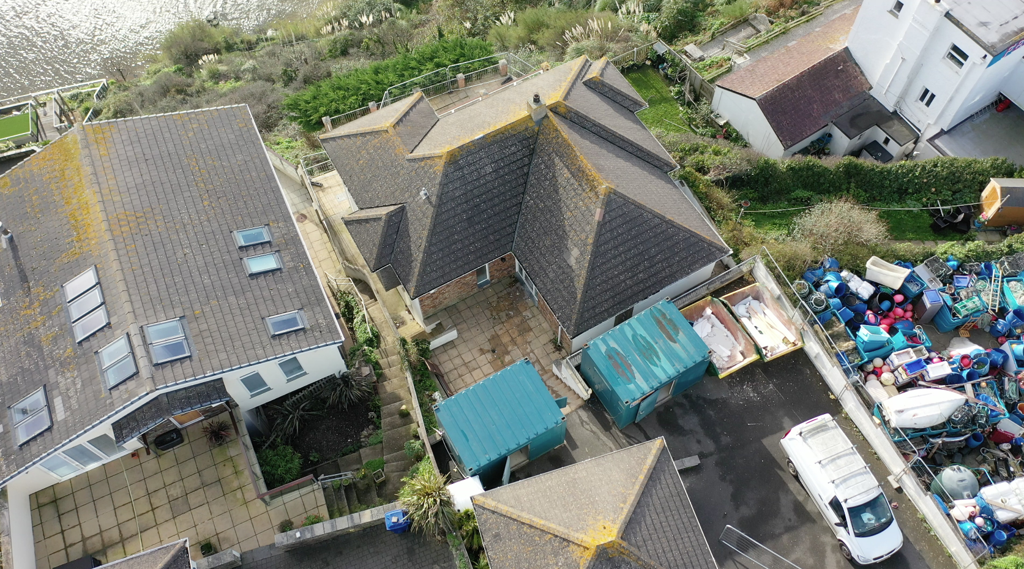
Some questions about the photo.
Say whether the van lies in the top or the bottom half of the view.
bottom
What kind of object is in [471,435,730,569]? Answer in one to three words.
building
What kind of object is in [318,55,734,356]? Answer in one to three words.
house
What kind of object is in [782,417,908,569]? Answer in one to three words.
van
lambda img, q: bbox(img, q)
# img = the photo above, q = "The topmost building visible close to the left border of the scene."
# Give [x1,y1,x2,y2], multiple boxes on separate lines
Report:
[0,104,351,509]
